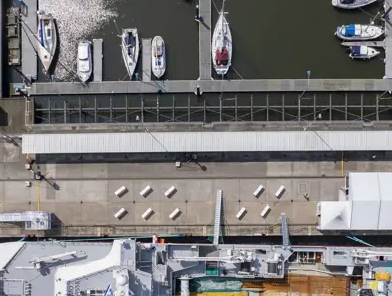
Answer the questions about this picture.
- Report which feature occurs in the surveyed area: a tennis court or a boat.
boat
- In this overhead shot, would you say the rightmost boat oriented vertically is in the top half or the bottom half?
top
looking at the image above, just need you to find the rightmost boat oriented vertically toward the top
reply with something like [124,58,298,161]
[210,0,232,82]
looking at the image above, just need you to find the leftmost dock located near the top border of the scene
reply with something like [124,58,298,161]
[20,0,36,78]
